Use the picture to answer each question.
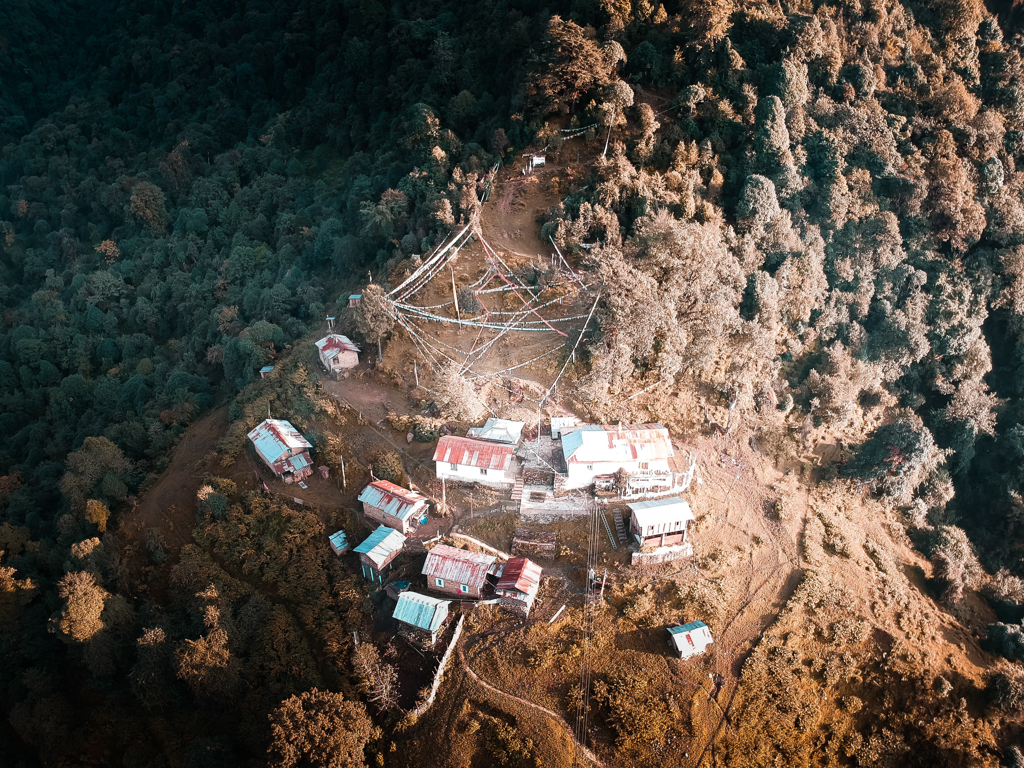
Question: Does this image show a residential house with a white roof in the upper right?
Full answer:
No, the scene shows no residential house with a white roof in the upper right.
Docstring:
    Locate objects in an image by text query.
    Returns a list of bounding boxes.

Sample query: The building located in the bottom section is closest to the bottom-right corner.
[668,621,713,660]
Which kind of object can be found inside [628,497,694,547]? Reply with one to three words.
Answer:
house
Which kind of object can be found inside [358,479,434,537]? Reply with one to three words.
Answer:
house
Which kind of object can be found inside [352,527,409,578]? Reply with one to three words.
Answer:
shed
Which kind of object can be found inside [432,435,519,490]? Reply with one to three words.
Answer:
building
